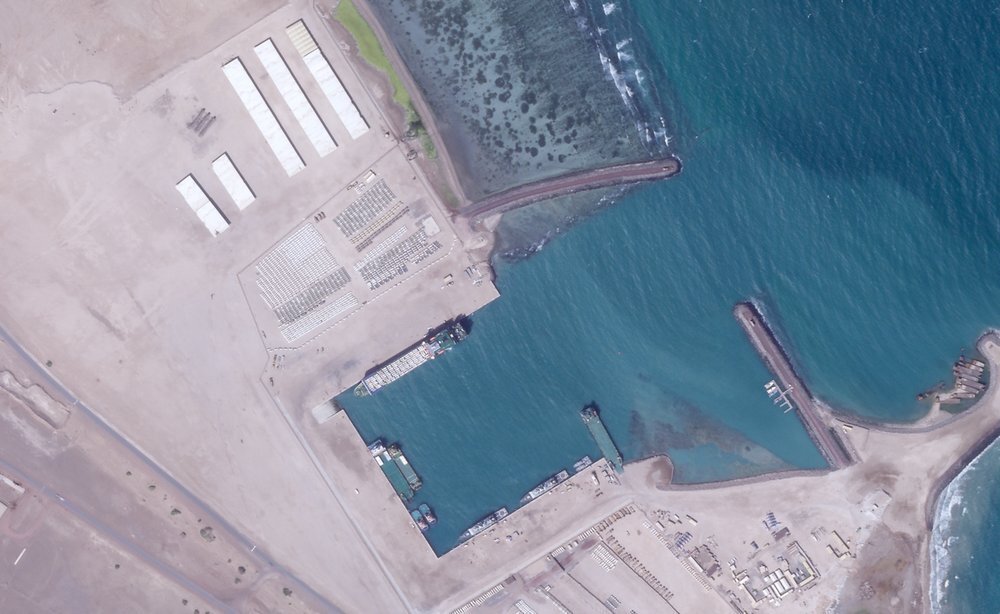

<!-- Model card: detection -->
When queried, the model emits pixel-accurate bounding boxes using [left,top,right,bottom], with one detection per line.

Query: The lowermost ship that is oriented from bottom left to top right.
[458,508,509,541]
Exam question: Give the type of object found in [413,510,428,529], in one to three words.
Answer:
boat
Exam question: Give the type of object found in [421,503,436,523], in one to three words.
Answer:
boat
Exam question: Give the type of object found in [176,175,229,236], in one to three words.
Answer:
building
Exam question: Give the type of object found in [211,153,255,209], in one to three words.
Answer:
building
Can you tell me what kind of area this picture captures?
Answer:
port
